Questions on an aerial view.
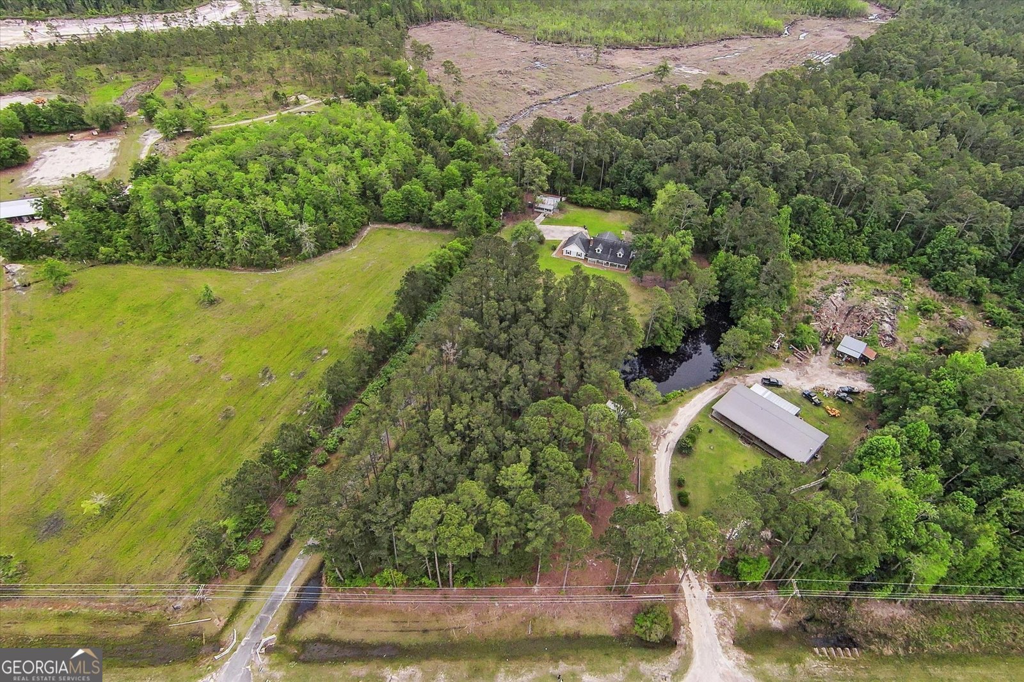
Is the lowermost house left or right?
right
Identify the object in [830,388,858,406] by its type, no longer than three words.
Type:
vehicle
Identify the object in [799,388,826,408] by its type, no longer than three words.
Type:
vehicle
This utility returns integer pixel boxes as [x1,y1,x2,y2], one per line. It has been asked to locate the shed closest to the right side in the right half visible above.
[833,334,878,367]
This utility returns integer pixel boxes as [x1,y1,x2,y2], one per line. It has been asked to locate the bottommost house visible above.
[710,384,825,465]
